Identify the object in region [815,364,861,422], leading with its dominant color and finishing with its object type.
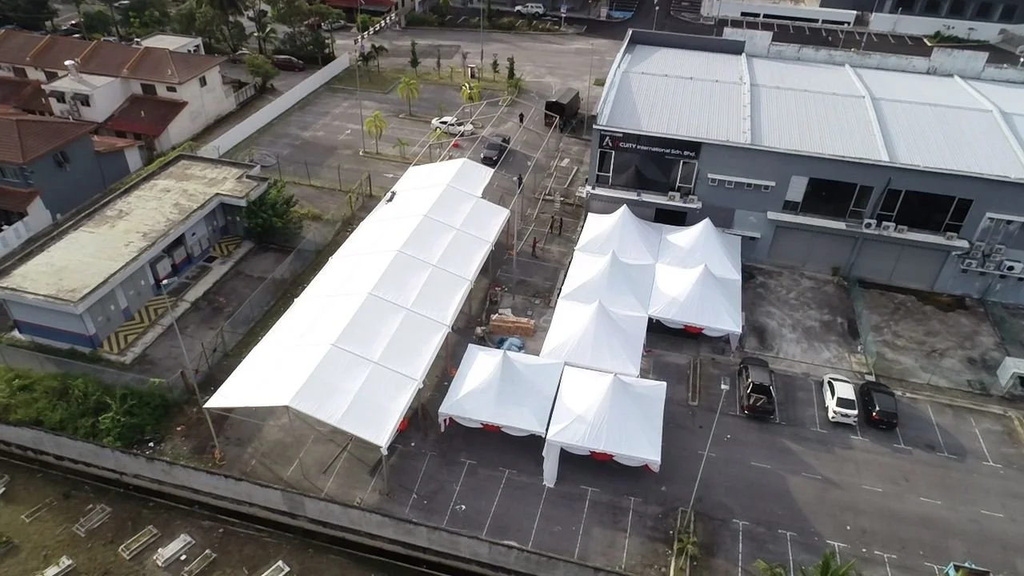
white car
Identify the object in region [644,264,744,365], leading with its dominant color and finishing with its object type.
white tent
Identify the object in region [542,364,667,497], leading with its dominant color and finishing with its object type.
white tent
